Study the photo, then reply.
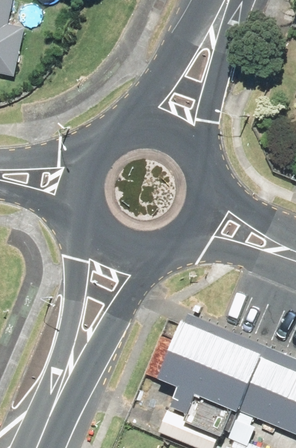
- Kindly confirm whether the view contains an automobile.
Yes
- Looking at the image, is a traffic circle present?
Yes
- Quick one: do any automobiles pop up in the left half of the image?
No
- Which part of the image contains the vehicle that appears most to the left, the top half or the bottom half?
bottom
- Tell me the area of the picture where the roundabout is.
center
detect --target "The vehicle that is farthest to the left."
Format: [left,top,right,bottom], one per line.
[225,292,248,324]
